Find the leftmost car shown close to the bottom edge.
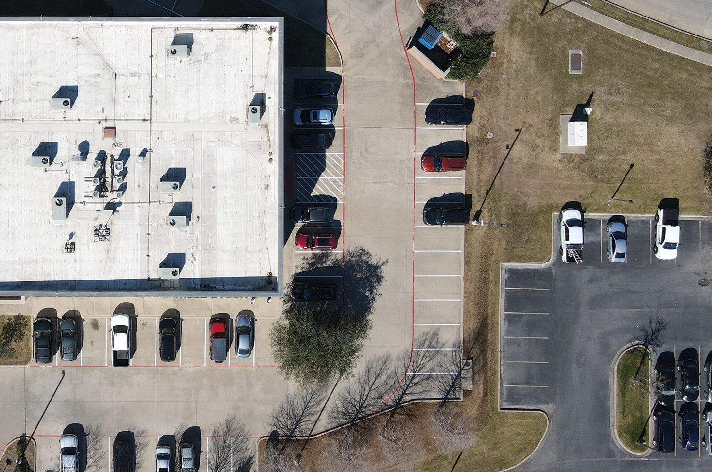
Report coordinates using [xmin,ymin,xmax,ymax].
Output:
[58,433,80,472]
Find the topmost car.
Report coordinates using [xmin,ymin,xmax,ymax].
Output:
[293,78,338,100]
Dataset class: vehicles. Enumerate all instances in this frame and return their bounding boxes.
[32,318,53,363]
[154,445,171,472]
[654,350,679,406]
[112,440,133,472]
[209,318,228,365]
[605,222,629,262]
[293,78,338,100]
[110,313,132,368]
[678,347,703,402]
[234,314,254,358]
[57,318,78,361]
[678,407,703,451]
[290,282,337,301]
[420,153,466,174]
[158,318,179,362]
[422,205,470,228]
[58,433,80,472]
[655,208,682,260]
[291,205,333,225]
[703,408,712,454]
[653,409,679,453]
[178,442,197,472]
[560,208,587,263]
[424,107,473,127]
[291,132,335,151]
[291,106,333,127]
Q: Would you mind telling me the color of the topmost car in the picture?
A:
black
